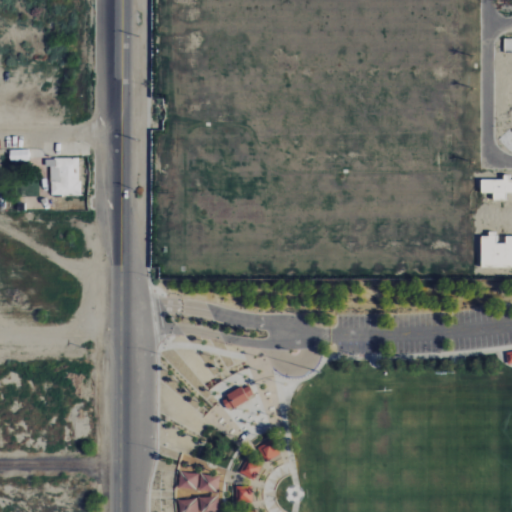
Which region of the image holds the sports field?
bottom right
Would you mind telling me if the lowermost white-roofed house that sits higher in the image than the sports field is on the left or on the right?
right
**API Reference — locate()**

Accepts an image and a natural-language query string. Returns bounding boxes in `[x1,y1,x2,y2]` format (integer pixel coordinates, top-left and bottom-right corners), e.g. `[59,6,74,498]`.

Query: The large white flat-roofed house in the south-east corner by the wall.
[480,231,512,268]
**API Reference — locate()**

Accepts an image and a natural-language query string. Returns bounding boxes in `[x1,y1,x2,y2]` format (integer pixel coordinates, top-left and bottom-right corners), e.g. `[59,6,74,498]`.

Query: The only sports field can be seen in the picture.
[290,349,512,512]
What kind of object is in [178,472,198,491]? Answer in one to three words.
building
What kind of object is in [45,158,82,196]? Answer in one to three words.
building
